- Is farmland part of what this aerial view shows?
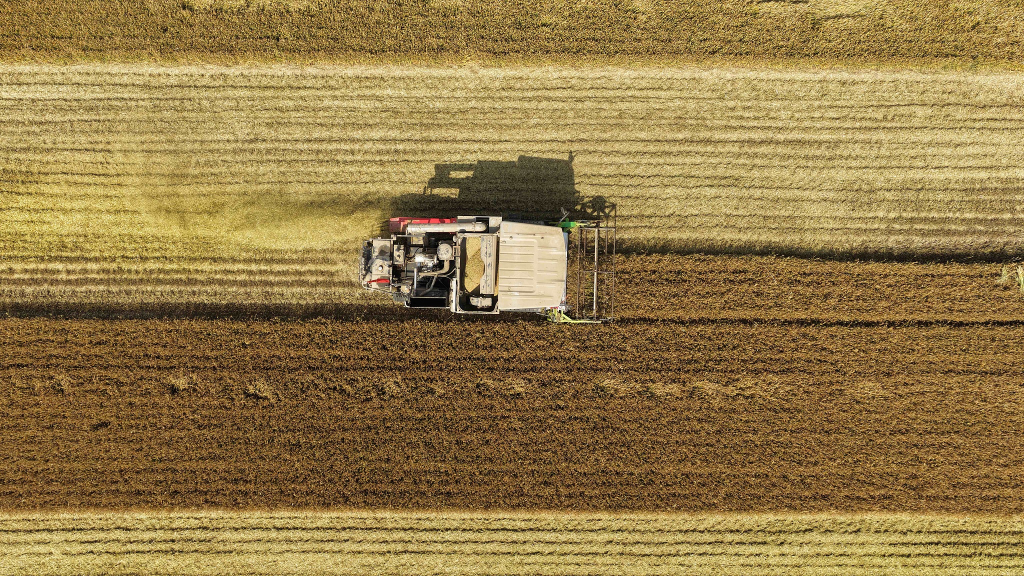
Yes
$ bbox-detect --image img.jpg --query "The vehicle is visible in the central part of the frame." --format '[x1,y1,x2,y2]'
[360,206,616,323]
